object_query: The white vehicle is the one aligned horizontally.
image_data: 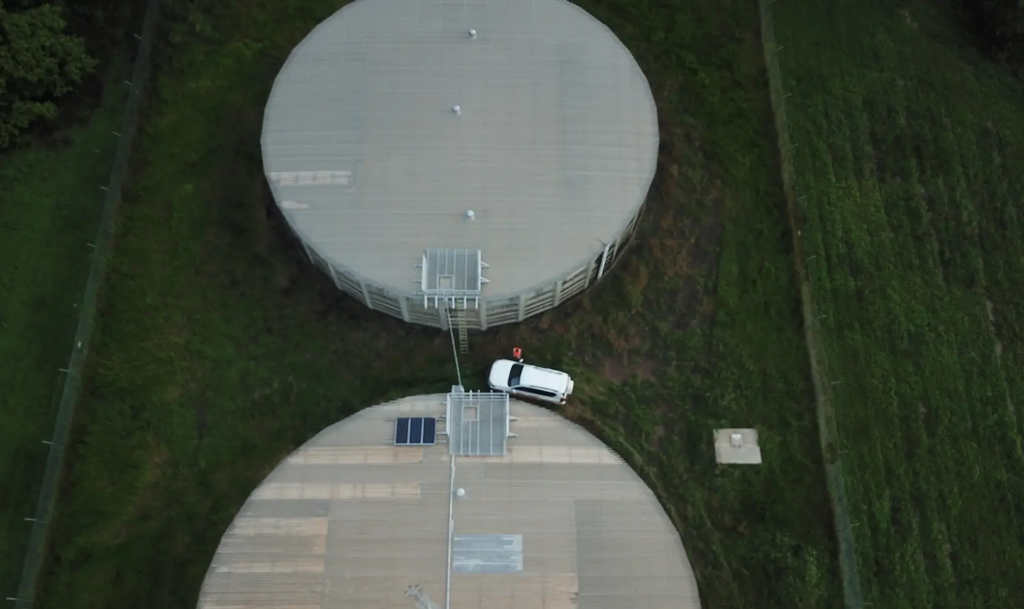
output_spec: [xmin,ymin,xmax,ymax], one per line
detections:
[488,359,572,407]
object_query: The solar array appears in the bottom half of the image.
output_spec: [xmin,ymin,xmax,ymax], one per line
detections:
[387,417,446,446]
